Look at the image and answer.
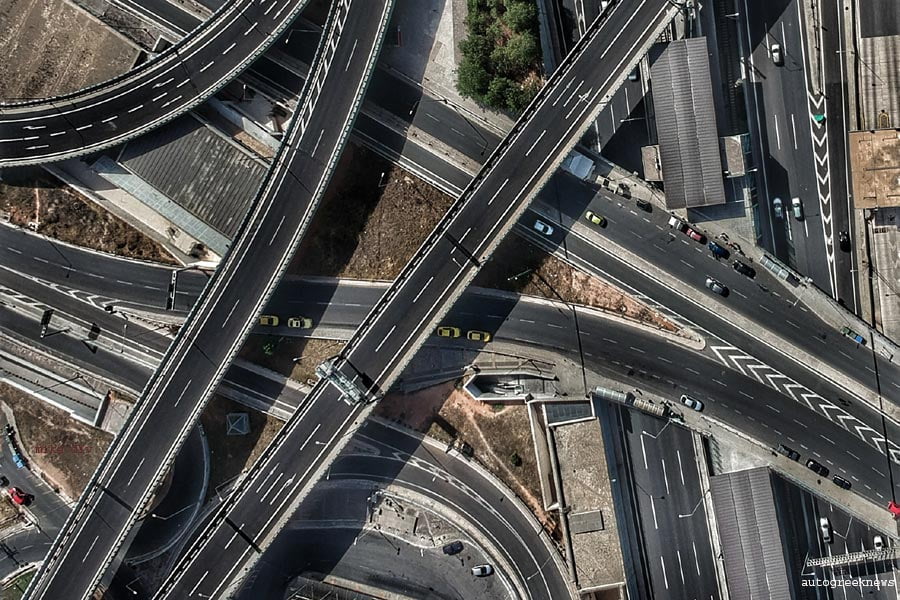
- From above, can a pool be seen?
No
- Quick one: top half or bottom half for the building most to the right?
top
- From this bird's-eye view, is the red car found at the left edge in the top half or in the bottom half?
bottom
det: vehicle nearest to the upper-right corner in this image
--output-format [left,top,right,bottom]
[769,41,782,65]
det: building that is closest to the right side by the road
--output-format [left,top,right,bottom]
[849,129,900,209]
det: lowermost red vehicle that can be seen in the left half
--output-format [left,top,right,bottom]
[4,487,29,508]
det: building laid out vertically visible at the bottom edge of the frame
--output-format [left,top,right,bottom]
[541,395,626,593]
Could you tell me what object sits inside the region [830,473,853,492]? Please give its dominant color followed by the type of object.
black car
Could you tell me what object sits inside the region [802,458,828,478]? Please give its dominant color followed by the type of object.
black car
